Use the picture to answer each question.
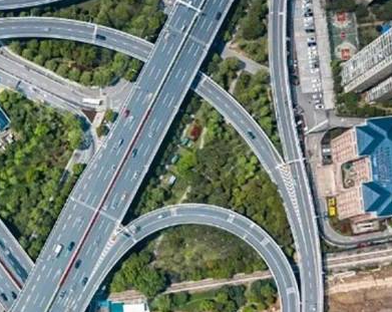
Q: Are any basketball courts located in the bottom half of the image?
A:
No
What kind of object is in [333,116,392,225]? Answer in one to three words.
building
